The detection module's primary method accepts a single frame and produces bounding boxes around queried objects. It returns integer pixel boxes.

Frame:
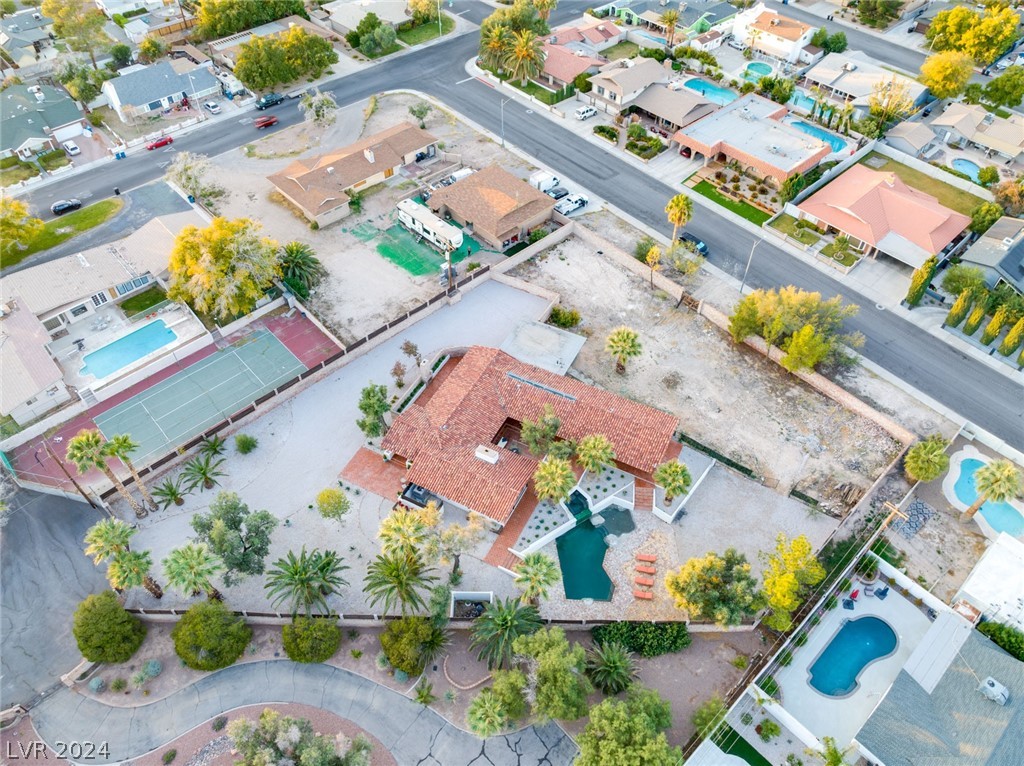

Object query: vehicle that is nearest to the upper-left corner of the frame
[62,140,80,156]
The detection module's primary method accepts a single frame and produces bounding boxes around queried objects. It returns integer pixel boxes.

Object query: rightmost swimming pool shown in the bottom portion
[951,455,1024,540]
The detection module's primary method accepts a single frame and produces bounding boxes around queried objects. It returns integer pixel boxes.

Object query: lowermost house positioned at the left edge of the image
[0,208,221,424]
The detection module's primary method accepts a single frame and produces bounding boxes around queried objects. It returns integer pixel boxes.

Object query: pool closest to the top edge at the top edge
[628,29,669,45]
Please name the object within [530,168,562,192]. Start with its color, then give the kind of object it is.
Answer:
white truck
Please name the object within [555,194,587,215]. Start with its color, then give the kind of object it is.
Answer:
white vehicle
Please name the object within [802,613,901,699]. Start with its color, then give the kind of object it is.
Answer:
blue swimming pool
